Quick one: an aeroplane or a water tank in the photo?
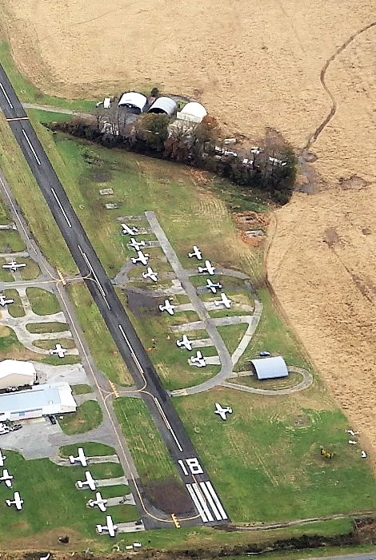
aeroplane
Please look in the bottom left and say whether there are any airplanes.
Yes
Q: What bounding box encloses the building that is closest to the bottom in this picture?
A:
[0,383,78,422]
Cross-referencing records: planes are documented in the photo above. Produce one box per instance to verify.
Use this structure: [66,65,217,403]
[188,353,206,366]
[199,261,217,275]
[188,248,204,259]
[205,279,223,291]
[6,493,28,511]
[97,516,121,537]
[175,336,193,349]
[0,469,17,486]
[71,450,92,468]
[0,295,14,306]
[128,237,145,249]
[89,492,110,510]
[158,300,176,313]
[2,259,26,272]
[214,404,234,419]
[78,472,101,492]
[0,448,10,466]
[121,224,138,236]
[49,344,68,357]
[132,252,150,264]
[214,295,232,307]
[142,269,159,279]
